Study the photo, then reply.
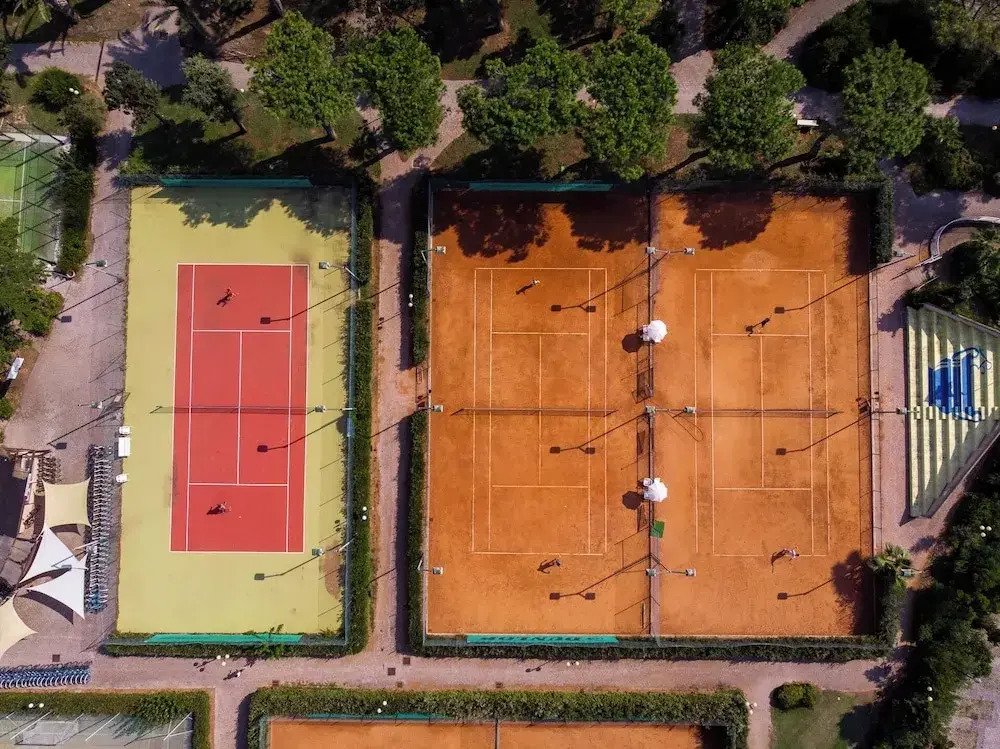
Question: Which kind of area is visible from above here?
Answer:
sports ground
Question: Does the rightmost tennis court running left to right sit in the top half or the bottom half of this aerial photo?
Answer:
bottom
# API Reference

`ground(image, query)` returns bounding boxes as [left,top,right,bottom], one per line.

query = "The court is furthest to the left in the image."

[0,126,67,258]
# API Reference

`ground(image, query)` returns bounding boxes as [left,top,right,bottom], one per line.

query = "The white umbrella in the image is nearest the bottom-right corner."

[645,477,671,503]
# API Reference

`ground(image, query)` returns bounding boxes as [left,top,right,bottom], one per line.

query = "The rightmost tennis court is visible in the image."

[650,188,875,637]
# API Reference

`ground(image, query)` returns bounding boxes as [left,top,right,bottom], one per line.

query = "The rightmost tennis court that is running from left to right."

[497,720,723,749]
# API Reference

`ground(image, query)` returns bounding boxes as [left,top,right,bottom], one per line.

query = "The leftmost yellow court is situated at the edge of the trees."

[118,185,354,635]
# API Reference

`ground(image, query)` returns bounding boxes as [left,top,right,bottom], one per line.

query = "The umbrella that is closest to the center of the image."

[645,319,671,345]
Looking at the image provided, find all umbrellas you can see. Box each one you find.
[645,477,671,503]
[645,319,671,345]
